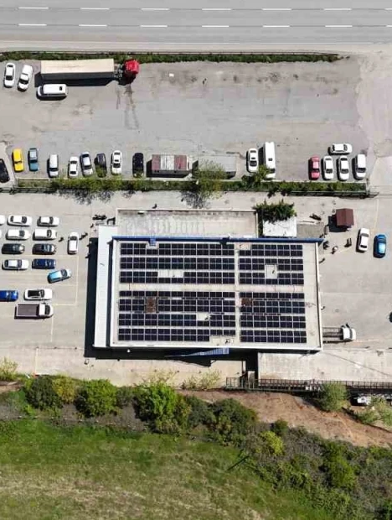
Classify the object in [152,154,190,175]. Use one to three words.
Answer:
building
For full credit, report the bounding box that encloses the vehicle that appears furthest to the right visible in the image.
[374,234,387,258]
